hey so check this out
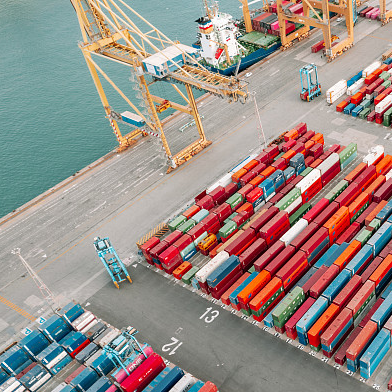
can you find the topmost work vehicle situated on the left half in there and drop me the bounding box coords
[92,238,127,290]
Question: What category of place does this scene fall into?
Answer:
port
